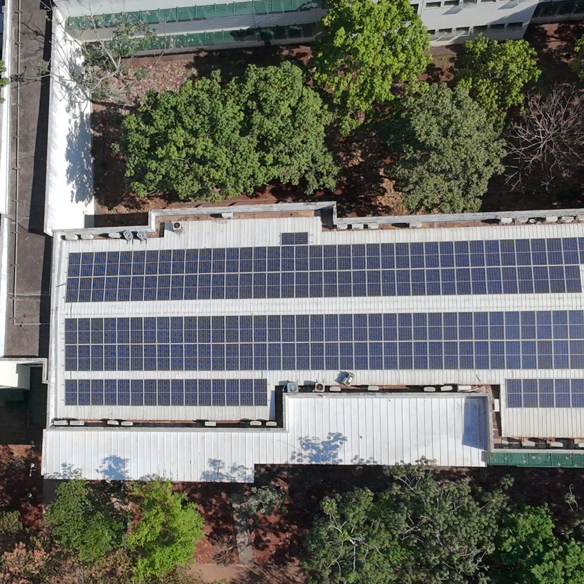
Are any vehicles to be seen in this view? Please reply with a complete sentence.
No, the frame has no vehicle in it.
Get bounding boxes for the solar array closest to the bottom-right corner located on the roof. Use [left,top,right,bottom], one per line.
[506,379,584,407]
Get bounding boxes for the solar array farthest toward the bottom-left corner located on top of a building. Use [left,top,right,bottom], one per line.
[62,380,271,406]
